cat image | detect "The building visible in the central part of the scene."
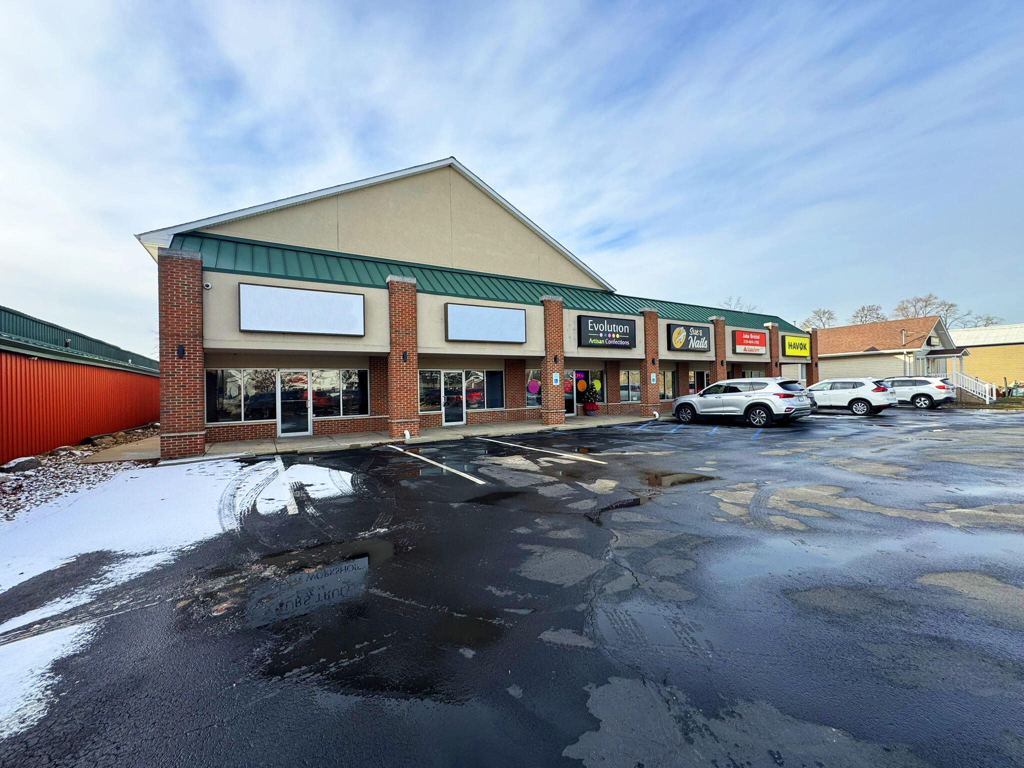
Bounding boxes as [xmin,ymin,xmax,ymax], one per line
[131,154,819,457]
